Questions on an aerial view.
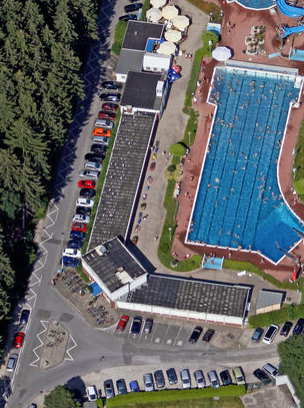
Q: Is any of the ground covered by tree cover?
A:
Yes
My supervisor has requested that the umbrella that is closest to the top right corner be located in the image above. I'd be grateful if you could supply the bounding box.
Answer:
[212,45,231,62]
